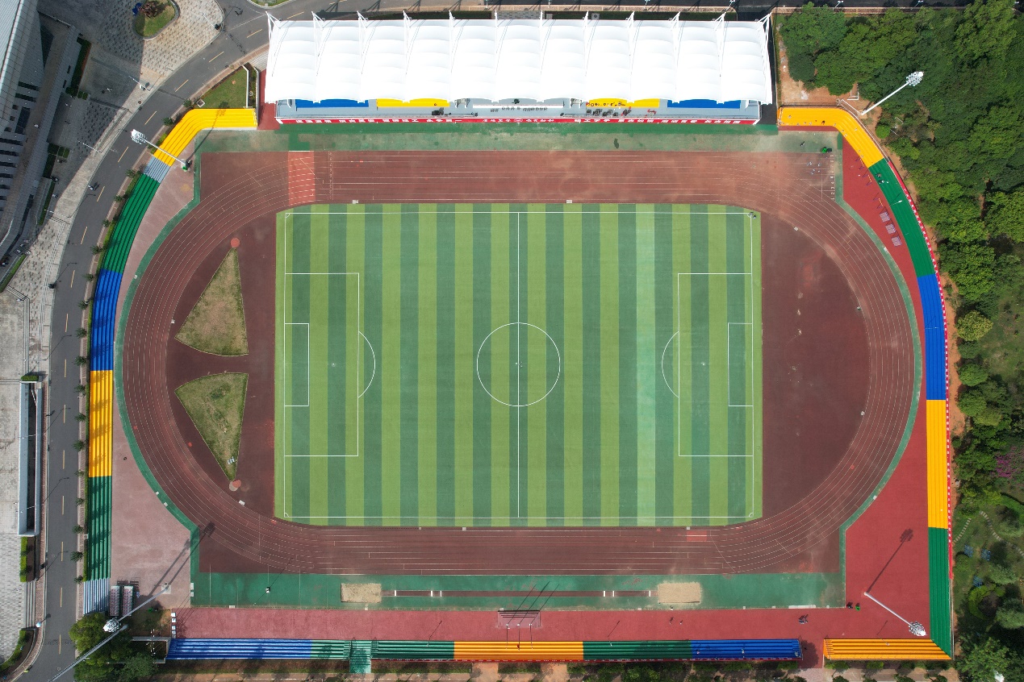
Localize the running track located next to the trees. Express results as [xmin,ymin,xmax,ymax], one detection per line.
[114,122,922,607]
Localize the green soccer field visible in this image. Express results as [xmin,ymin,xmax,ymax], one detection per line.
[275,204,762,528]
